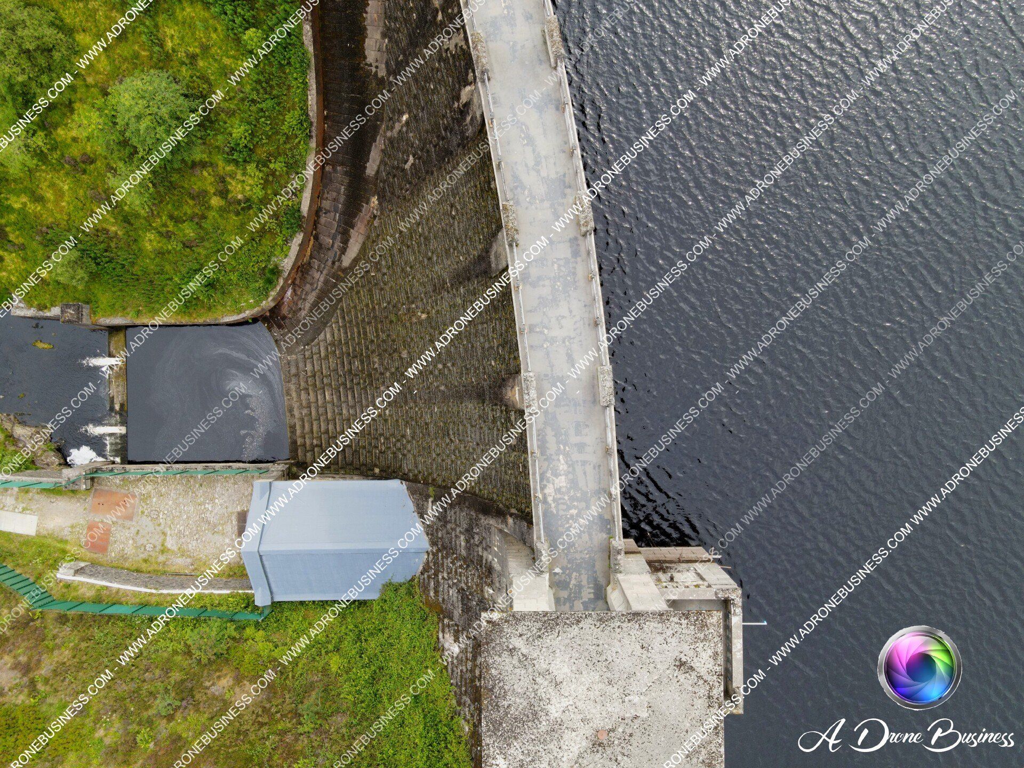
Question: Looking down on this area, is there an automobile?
No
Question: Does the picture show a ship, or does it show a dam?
dam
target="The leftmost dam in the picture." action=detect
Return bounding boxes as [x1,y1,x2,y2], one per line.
[110,325,130,461]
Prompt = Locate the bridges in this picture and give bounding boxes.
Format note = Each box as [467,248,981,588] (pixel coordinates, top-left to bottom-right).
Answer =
[460,0,648,610]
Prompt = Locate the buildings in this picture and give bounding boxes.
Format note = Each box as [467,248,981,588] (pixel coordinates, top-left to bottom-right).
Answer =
[239,474,429,606]
[482,537,744,768]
